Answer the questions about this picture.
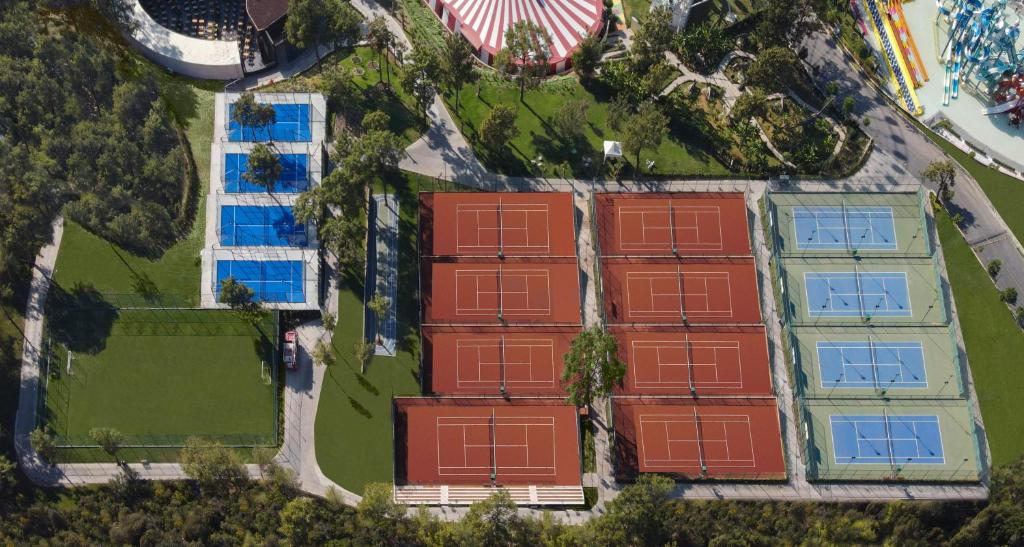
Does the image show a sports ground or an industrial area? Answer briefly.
sports ground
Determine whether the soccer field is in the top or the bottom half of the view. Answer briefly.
bottom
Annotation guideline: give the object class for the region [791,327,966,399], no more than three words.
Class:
tennis court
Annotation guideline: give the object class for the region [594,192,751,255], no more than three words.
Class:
tennis court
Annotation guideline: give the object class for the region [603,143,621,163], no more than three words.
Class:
gazebo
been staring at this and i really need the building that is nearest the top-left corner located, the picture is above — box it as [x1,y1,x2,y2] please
[124,0,244,77]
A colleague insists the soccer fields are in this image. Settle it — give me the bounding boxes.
[48,310,276,446]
